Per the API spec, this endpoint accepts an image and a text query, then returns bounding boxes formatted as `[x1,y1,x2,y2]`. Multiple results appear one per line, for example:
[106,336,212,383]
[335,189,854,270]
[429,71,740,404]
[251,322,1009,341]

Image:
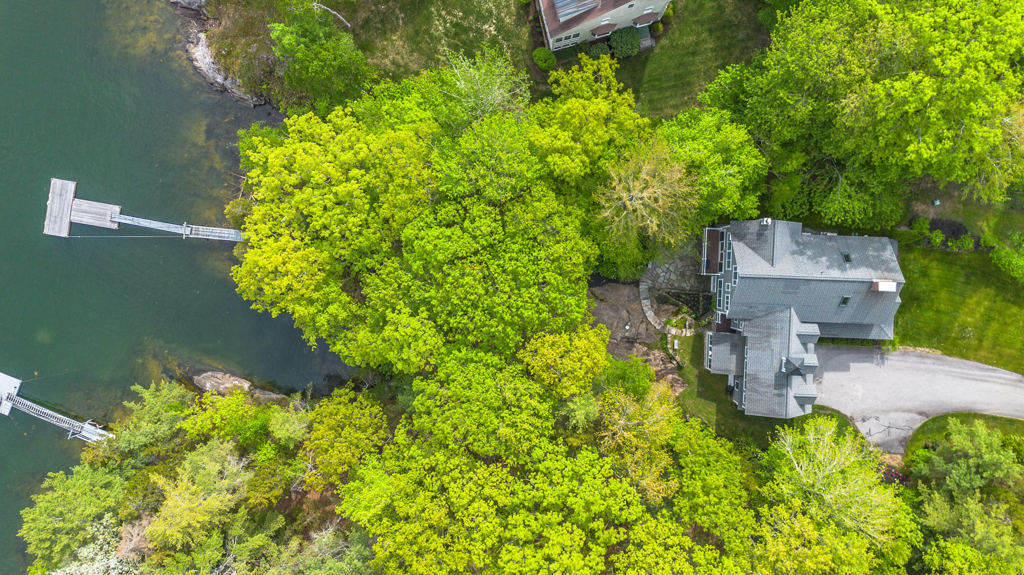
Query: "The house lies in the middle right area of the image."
[696,217,905,422]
